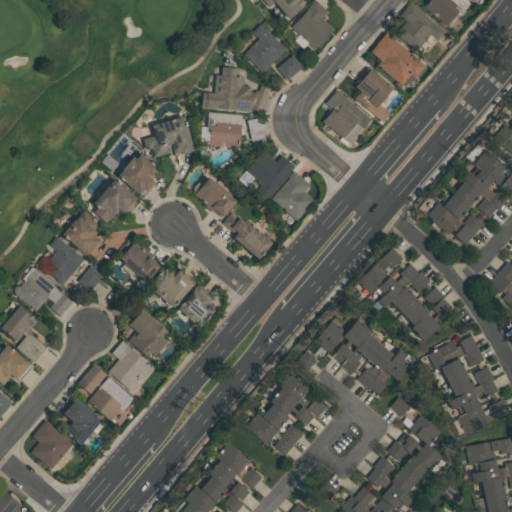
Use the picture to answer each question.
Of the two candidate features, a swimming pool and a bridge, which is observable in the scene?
swimming pool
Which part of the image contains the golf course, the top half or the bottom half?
top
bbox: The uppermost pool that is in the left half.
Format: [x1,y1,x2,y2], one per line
[154,103,182,120]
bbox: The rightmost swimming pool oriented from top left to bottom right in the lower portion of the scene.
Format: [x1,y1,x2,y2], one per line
[171,318,190,335]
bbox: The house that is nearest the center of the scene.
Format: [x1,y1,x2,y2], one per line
[222,212,274,259]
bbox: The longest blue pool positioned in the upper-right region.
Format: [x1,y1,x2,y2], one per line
[386,93,404,112]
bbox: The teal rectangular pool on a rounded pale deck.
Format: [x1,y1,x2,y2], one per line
[86,174,106,194]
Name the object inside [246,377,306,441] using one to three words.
house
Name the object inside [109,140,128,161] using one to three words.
swimming pool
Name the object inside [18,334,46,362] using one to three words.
building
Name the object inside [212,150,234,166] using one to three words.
swimming pool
